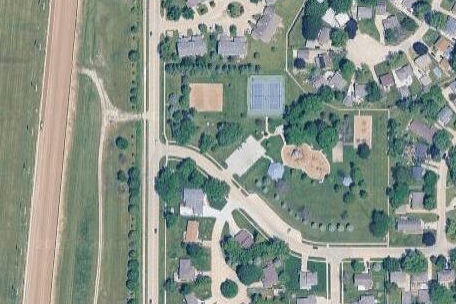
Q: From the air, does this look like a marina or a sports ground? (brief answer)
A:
sports ground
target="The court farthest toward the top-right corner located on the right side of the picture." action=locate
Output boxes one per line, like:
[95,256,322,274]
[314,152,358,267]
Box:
[353,115,371,149]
